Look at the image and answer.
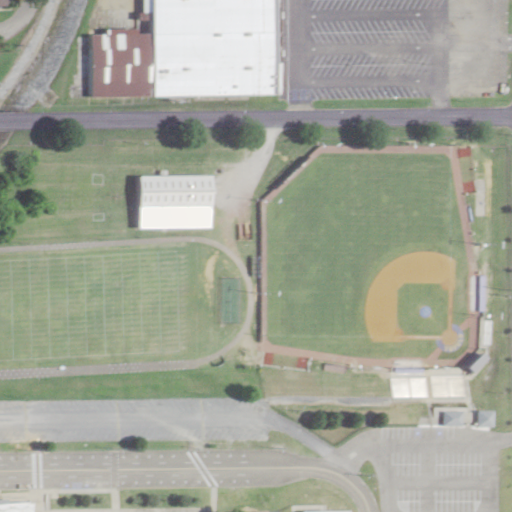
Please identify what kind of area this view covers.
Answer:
sports ground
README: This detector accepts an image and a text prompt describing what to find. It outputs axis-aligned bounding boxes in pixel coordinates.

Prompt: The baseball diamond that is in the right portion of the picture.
[261,146,476,368]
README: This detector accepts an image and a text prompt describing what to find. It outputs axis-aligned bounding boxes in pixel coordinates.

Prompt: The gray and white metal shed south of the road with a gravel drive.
[138,176,216,230]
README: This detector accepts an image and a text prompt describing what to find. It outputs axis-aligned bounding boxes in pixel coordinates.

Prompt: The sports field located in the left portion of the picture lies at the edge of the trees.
[0,254,203,360]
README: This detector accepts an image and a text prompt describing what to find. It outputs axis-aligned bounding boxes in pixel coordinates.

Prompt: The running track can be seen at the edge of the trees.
[0,236,254,379]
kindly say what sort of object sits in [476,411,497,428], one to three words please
building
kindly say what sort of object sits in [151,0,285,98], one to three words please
building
